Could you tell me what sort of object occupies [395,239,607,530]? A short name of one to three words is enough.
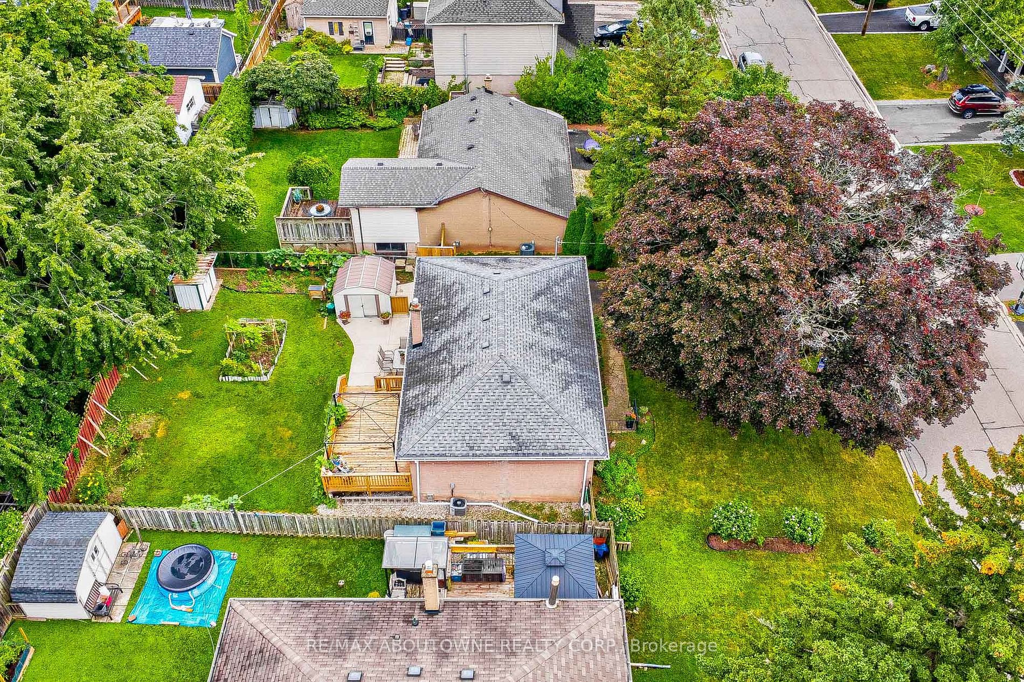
house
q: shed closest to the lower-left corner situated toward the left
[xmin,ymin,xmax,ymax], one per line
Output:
[4,514,119,617]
